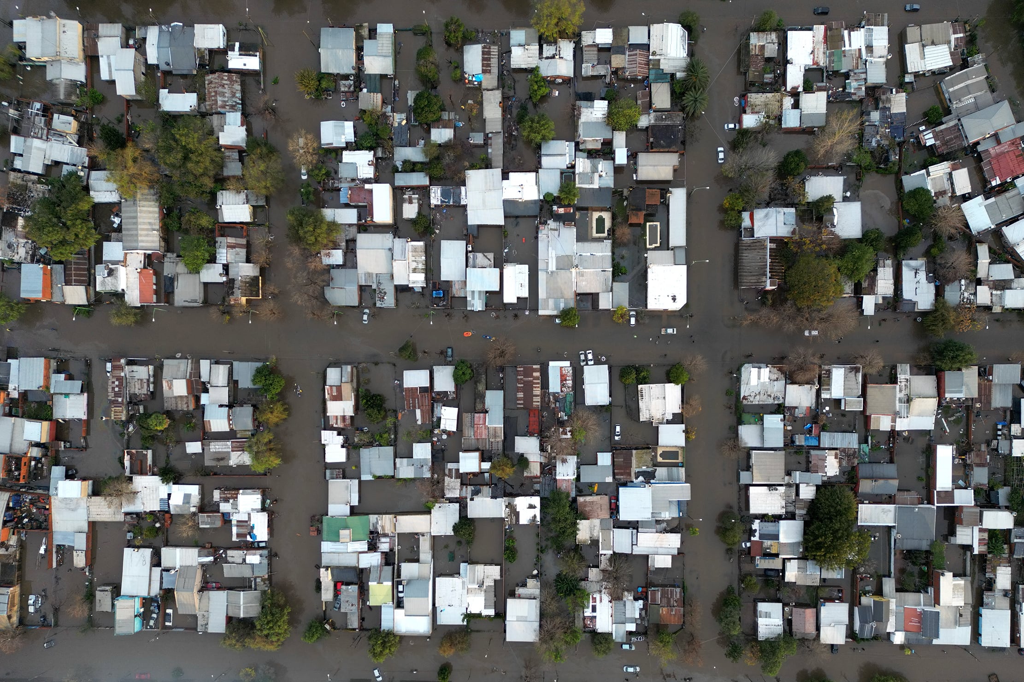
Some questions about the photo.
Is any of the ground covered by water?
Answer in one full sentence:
Yes, there is water in the image.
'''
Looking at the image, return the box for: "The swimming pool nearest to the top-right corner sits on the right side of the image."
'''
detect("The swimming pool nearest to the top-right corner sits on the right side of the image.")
[647,222,660,247]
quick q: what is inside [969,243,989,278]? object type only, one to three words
shed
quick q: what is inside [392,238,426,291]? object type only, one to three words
house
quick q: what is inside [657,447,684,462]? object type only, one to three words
swimming pool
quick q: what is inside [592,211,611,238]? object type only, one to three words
swimming pool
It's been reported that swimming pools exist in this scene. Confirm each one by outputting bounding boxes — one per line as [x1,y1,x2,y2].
[592,211,611,238]
[657,447,684,462]
[647,222,660,247]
